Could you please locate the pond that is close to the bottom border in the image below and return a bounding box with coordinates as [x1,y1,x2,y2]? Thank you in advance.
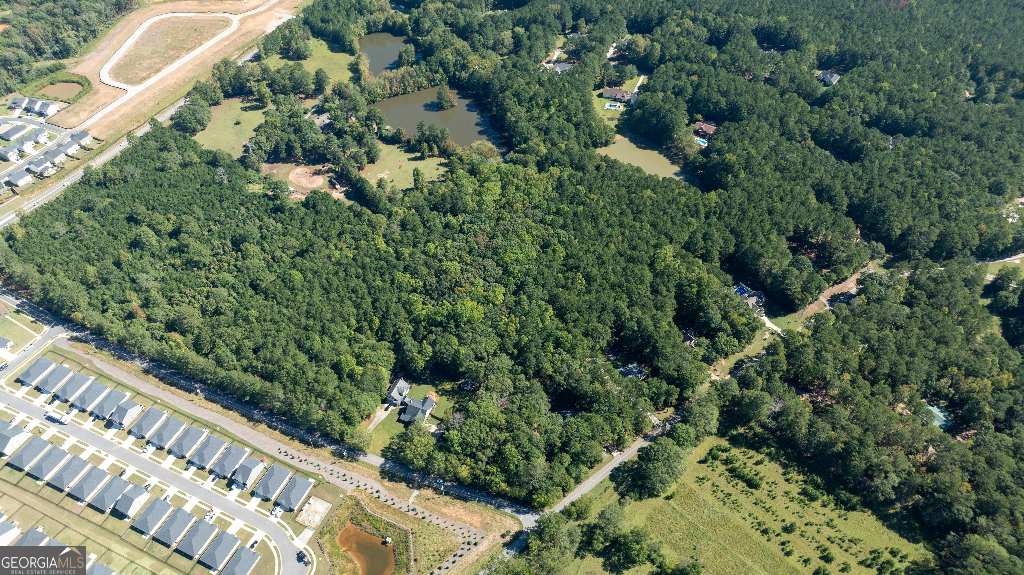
[338,523,395,575]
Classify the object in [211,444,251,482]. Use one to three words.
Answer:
house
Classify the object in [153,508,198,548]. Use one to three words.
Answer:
house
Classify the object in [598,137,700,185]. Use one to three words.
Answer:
pond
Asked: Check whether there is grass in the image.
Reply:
Yes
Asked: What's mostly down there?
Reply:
trees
